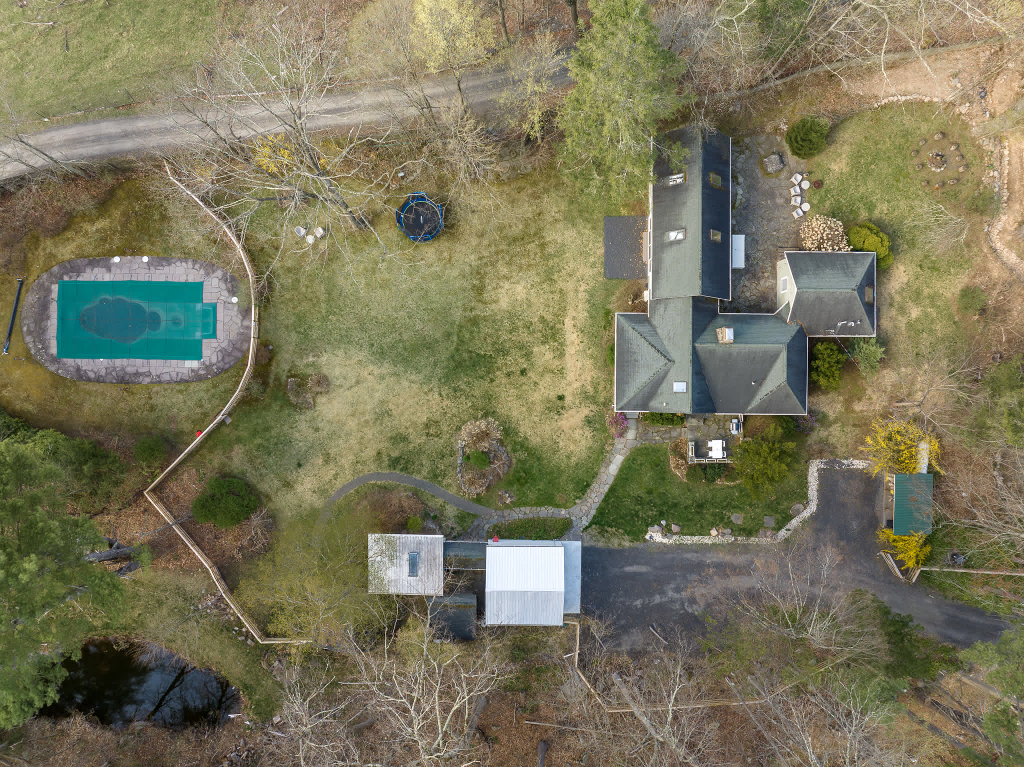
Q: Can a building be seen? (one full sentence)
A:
Yes, the image includes a building.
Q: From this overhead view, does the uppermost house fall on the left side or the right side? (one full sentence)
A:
It is on the right.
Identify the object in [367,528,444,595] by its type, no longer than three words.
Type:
building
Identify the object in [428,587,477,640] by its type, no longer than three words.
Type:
shed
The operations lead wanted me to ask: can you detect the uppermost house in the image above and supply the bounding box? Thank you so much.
[611,126,877,421]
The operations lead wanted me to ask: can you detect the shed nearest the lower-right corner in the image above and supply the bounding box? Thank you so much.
[883,472,934,535]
